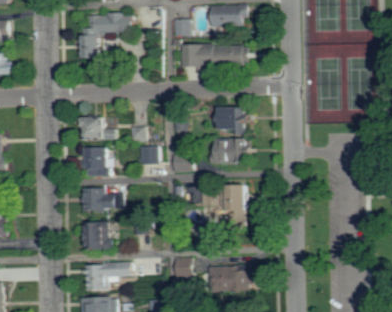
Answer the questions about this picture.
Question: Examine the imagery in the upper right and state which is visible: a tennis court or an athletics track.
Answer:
tennis court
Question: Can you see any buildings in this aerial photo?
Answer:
Yes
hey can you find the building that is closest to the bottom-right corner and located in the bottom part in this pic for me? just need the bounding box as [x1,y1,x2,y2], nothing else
[208,266,252,292]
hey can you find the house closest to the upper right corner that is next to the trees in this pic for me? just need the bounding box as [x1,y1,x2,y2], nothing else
[208,4,248,27]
